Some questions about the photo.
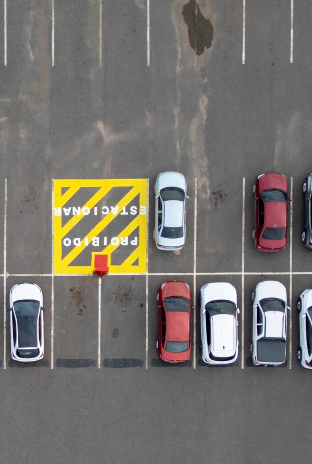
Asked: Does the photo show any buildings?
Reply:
No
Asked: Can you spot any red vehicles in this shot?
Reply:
Yes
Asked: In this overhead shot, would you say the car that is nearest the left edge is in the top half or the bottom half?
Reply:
bottom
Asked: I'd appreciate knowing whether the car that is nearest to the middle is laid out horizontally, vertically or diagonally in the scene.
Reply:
vertically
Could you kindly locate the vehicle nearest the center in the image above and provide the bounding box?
[151,171,192,251]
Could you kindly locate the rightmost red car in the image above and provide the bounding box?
[251,172,293,252]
